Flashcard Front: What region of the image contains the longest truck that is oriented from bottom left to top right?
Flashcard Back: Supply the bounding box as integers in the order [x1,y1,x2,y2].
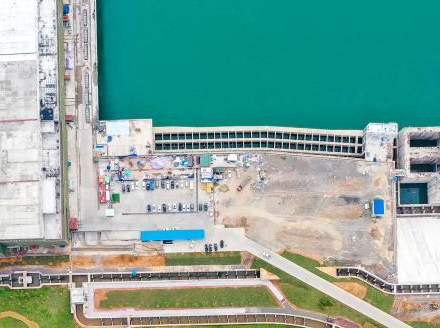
[229,173,252,199]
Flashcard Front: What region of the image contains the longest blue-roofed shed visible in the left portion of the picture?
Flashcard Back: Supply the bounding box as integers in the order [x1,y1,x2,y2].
[141,229,204,241]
